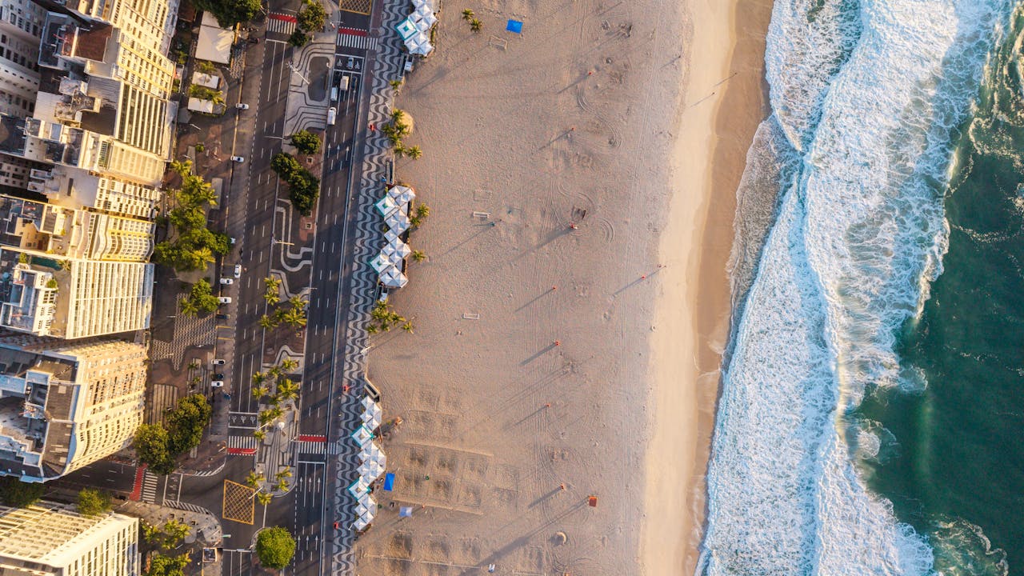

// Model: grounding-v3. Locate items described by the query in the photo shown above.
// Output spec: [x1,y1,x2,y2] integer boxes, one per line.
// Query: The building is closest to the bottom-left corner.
[0,497,140,576]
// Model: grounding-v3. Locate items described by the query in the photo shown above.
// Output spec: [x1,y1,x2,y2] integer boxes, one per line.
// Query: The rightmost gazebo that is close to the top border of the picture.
[506,19,523,34]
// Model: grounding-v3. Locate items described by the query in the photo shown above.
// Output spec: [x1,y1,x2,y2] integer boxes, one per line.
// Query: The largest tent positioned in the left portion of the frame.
[195,26,235,67]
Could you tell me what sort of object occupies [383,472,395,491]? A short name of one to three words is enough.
gazebo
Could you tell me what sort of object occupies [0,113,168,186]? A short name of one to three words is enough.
building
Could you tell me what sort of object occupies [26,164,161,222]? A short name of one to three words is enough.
building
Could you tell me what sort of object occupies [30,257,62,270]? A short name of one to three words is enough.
swimming pool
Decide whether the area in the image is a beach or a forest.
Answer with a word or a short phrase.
beach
